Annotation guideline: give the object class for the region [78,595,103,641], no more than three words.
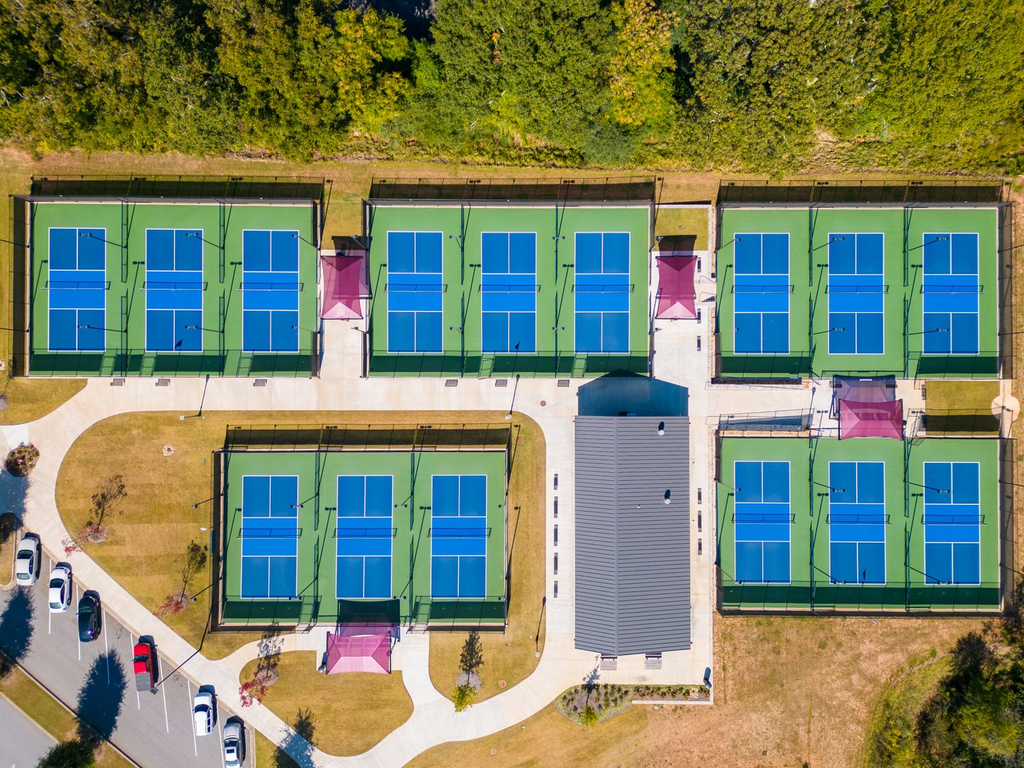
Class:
car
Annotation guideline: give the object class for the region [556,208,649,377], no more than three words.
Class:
sports court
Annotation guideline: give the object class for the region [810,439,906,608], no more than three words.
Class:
sports court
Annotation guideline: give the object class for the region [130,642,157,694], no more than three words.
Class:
truck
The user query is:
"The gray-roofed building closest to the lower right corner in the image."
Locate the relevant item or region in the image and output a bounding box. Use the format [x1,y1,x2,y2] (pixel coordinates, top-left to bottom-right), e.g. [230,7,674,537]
[572,417,692,656]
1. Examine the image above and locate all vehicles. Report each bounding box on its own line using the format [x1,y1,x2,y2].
[47,567,73,613]
[130,642,157,694]
[17,538,43,585]
[78,595,103,641]
[221,722,244,768]
[191,691,216,738]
